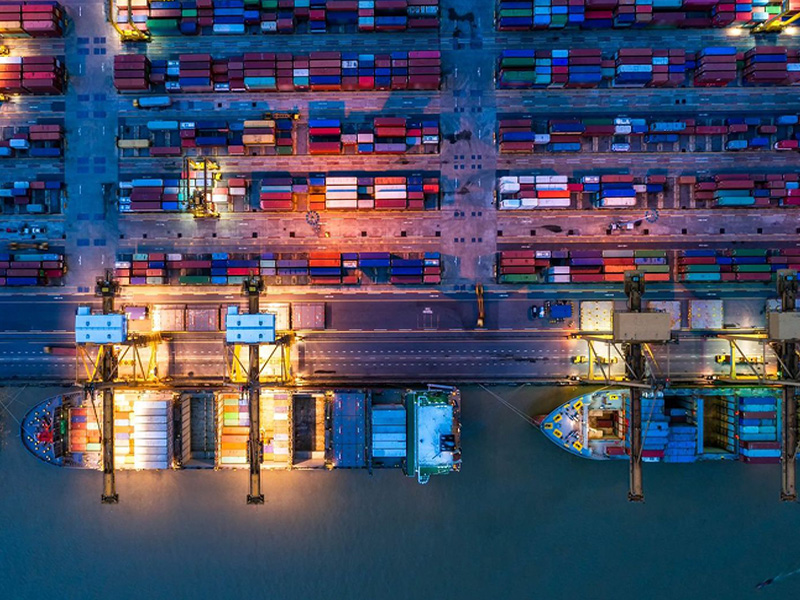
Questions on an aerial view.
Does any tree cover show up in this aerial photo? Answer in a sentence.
No, tree cover can't be seen anywhere here.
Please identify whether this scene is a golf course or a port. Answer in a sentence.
This image shows a port.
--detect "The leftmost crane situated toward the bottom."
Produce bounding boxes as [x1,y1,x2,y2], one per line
[74,270,173,505]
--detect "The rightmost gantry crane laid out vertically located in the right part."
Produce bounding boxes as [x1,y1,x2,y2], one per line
[715,270,800,500]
